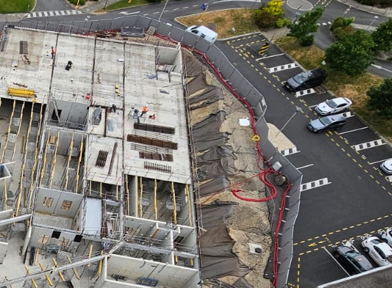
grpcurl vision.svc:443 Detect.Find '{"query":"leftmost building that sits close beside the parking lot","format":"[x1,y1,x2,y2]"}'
[0,25,203,288]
